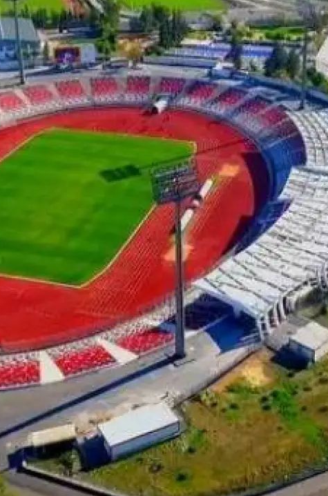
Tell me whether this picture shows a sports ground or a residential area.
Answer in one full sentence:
This looks like a sports ground.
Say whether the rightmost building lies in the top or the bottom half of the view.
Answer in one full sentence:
The bottom half of the photo is where the rightmost building is.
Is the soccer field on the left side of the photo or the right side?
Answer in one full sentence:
It is on the left.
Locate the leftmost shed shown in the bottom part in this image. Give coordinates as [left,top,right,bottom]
[28,421,77,457]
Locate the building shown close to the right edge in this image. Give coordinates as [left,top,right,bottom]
[288,321,328,363]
